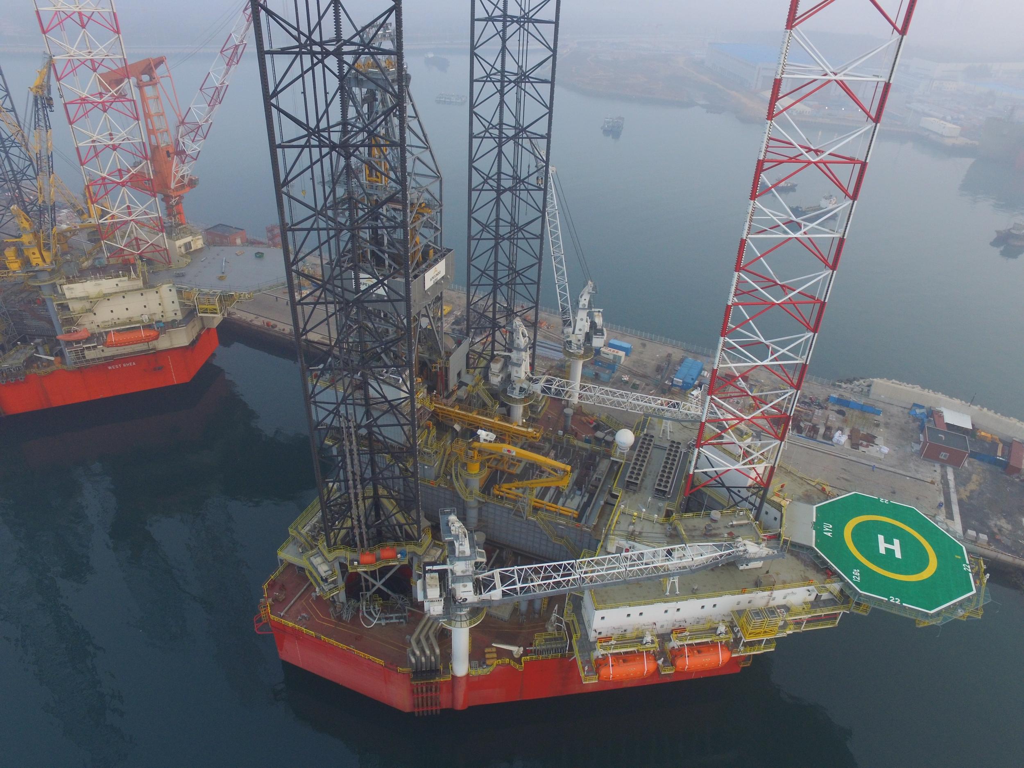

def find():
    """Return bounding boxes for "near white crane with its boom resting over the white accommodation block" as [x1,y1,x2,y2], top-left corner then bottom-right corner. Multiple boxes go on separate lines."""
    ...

[408,512,794,686]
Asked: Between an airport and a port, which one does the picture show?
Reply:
port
